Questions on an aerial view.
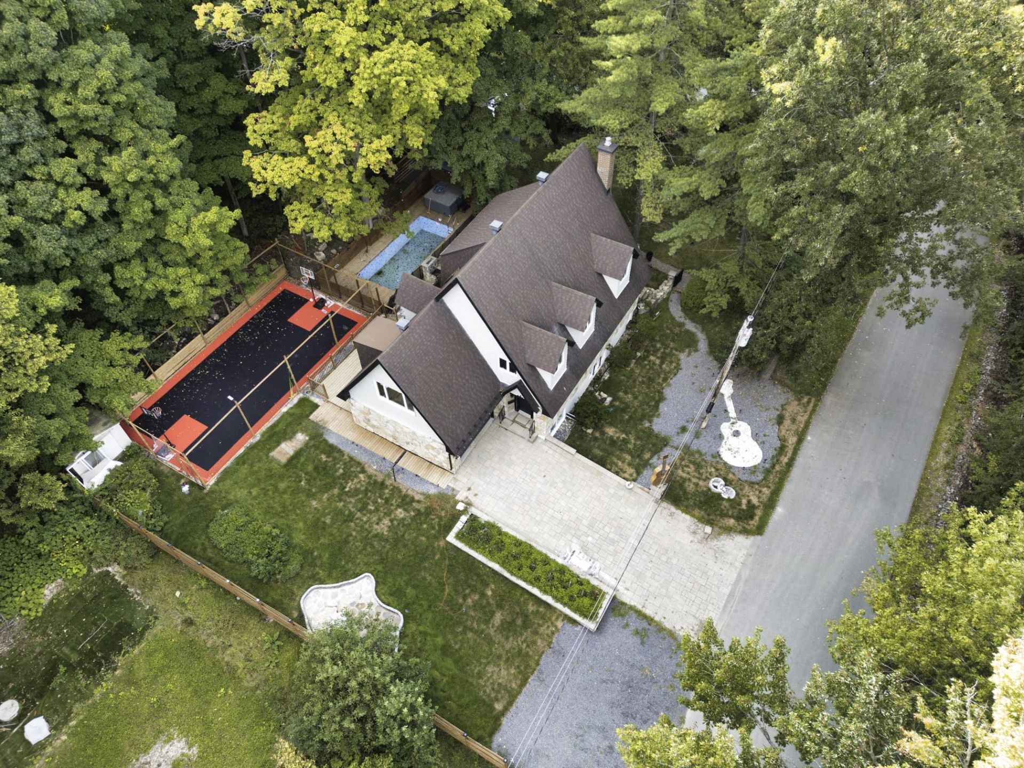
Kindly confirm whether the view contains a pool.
Yes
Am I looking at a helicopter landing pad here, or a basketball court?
basketball court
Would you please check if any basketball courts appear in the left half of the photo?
Yes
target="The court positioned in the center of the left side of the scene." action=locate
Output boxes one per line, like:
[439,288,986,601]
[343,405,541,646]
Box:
[110,278,368,484]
